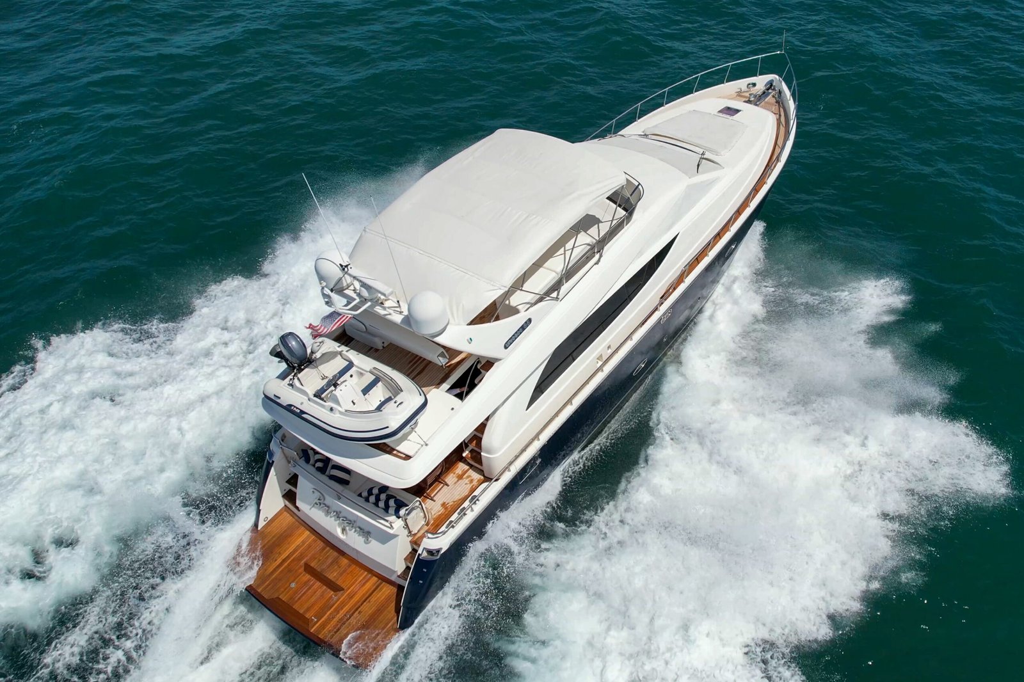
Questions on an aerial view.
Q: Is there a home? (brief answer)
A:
No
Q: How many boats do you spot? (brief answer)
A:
2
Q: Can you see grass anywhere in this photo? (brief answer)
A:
No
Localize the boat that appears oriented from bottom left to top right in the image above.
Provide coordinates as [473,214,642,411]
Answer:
[216,26,801,661]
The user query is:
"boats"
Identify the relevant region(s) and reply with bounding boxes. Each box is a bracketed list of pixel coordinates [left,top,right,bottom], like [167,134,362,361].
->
[216,26,801,661]
[261,325,431,440]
